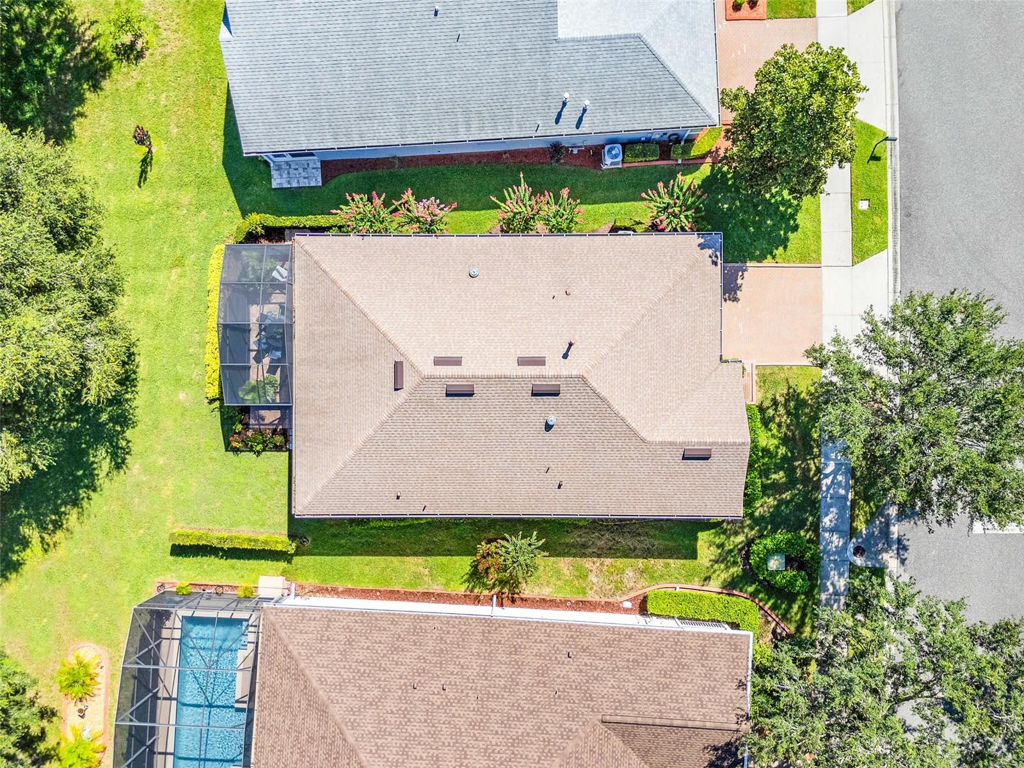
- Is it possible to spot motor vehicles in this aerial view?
No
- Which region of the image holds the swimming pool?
bottom left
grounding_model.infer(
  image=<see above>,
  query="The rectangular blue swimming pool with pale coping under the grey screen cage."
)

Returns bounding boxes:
[175,616,248,768]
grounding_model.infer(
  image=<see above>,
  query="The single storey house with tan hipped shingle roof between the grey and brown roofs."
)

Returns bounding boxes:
[293,234,751,517]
